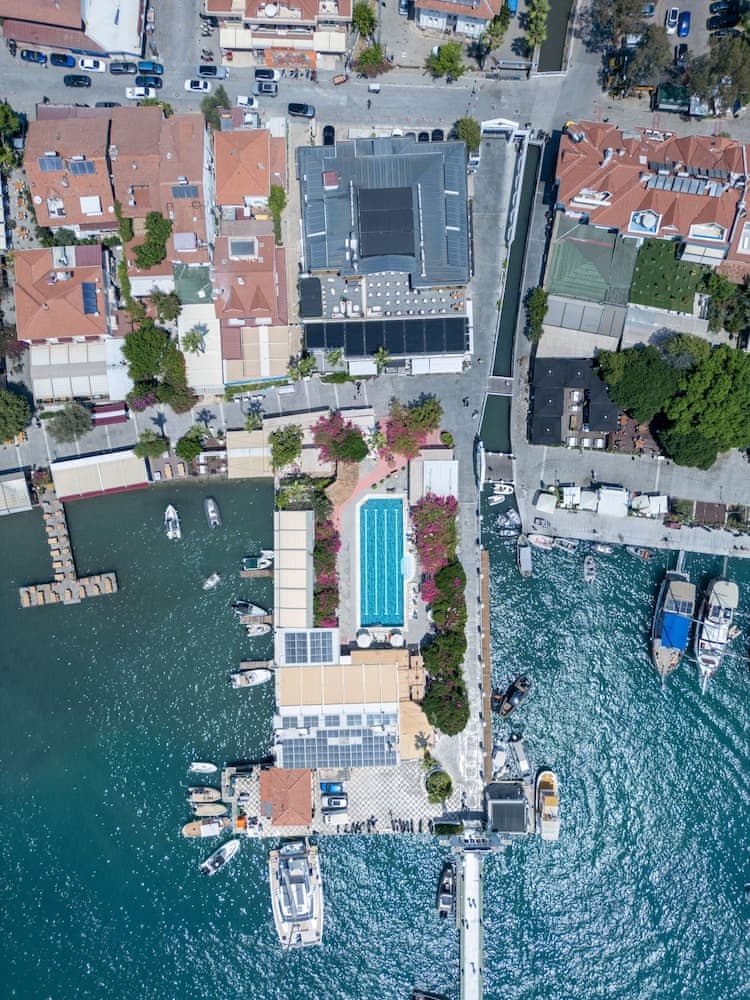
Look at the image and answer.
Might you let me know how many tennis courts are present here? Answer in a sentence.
Not a single tennis court can be seen.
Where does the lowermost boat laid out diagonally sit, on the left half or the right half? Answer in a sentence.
It is on the left.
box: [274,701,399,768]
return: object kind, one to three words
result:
building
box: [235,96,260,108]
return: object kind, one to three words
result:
vehicle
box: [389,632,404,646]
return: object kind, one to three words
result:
umbrella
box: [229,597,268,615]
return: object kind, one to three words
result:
boat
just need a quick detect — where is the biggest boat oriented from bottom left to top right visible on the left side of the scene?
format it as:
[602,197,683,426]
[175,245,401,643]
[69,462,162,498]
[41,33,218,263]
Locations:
[197,840,239,876]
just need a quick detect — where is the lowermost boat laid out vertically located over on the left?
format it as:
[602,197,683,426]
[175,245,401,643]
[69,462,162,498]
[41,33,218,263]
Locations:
[269,825,323,962]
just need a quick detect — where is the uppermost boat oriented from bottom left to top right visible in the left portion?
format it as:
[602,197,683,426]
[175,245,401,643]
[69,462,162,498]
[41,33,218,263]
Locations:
[203,571,222,587]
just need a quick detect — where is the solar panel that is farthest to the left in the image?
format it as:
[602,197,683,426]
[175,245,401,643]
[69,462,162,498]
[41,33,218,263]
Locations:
[40,157,63,172]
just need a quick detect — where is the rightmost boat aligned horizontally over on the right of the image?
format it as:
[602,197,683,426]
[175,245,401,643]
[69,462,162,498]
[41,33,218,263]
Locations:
[626,546,657,560]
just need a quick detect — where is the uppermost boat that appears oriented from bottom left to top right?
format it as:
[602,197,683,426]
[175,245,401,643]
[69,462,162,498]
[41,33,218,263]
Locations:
[492,513,511,529]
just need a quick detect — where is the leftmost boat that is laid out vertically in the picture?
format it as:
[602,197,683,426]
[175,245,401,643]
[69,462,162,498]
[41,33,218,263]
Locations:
[165,505,181,543]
